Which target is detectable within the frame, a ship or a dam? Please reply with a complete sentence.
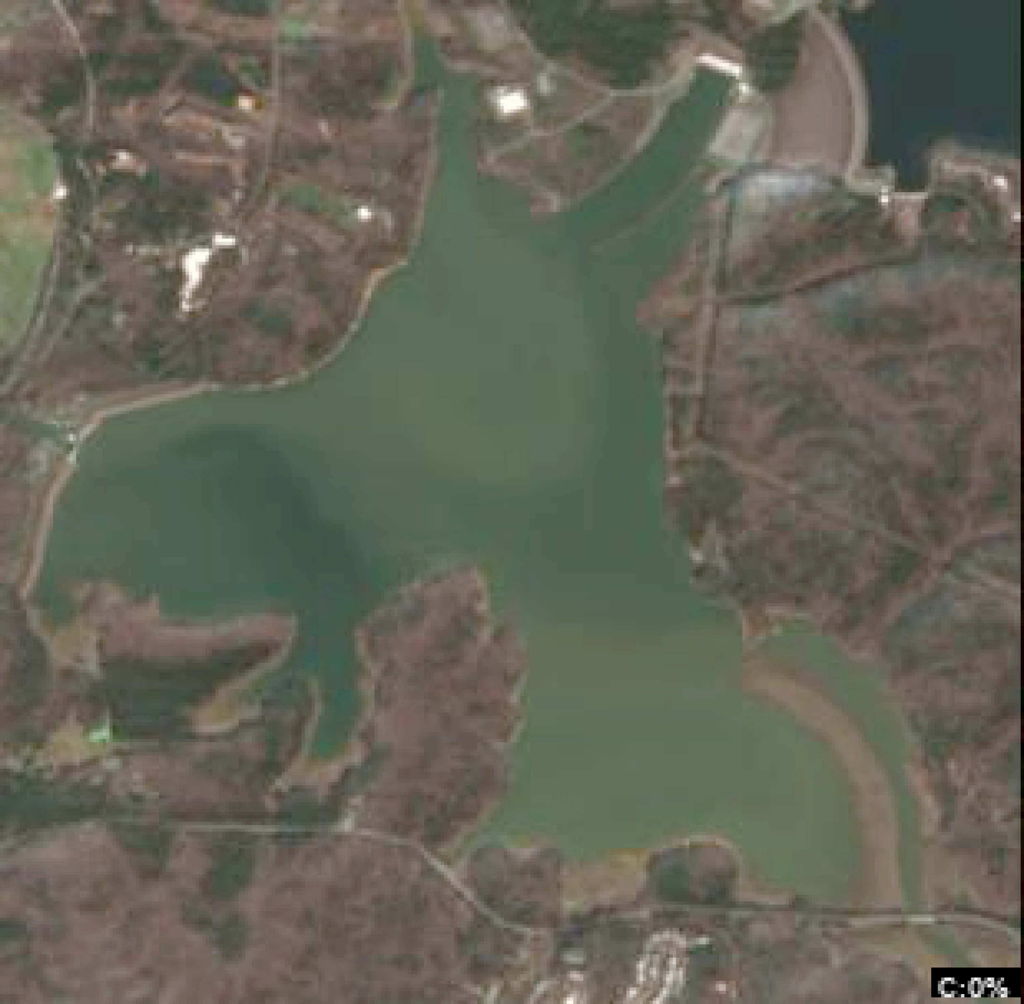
Visible in the photo is a dam.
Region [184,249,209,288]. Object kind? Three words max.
building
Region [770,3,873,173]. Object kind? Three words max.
dam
